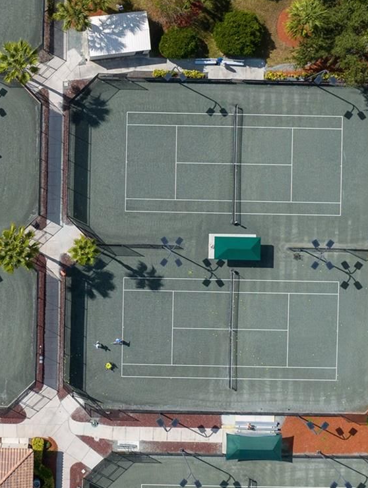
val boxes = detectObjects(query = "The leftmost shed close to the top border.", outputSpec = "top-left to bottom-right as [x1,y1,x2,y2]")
[87,11,150,58]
